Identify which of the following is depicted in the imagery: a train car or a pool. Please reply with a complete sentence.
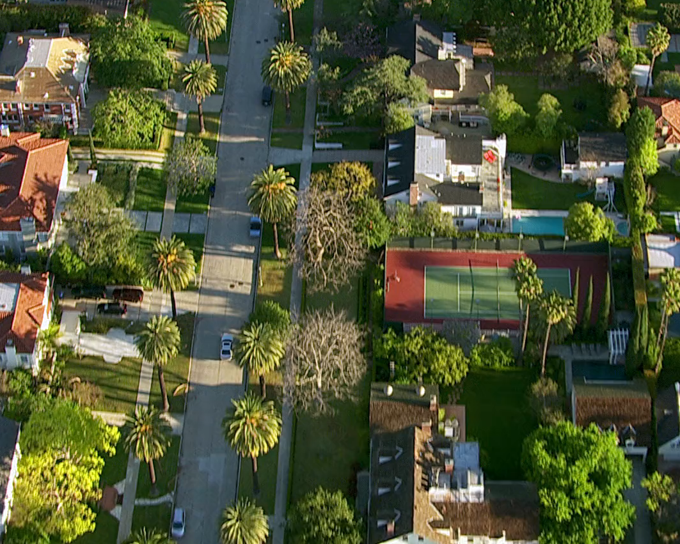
This aerial view contains a pool.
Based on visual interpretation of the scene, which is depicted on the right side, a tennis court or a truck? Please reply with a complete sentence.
It is a tennis court that can be seen on the right side.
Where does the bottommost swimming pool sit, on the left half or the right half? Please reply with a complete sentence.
It is on the right.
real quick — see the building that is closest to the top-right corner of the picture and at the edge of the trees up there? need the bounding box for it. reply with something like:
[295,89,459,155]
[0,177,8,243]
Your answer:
[631,64,650,92]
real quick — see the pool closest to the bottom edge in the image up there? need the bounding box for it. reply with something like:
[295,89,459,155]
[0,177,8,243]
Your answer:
[570,358,628,379]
